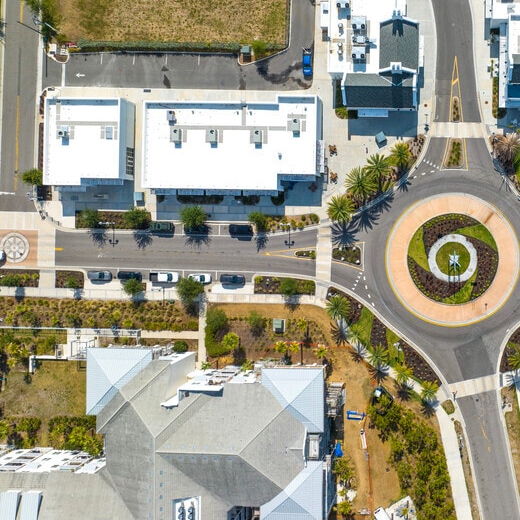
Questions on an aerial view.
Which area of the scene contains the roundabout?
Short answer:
right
